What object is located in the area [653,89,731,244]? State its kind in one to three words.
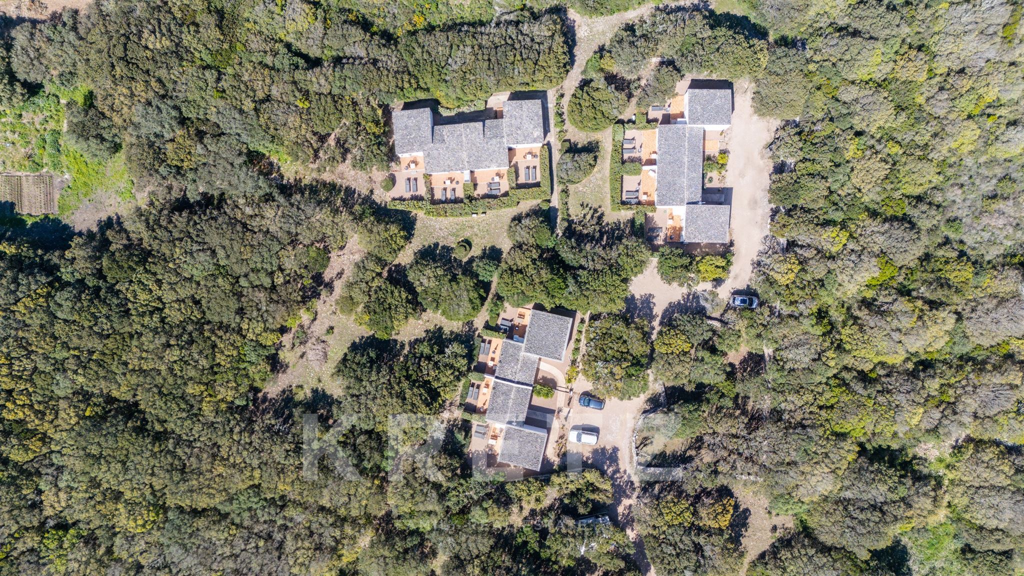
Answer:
house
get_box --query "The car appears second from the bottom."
[577,395,605,410]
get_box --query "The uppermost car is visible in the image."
[730,295,759,309]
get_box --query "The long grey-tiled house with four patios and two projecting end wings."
[392,100,544,175]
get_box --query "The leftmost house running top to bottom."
[485,310,573,471]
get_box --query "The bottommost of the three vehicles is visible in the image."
[568,430,598,445]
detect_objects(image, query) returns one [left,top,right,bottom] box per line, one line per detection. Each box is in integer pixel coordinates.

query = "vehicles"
[730,295,759,309]
[568,430,598,445]
[577,395,605,410]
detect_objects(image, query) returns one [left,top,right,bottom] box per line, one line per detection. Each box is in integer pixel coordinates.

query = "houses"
[653,89,731,244]
[392,100,544,175]
[485,310,573,471]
